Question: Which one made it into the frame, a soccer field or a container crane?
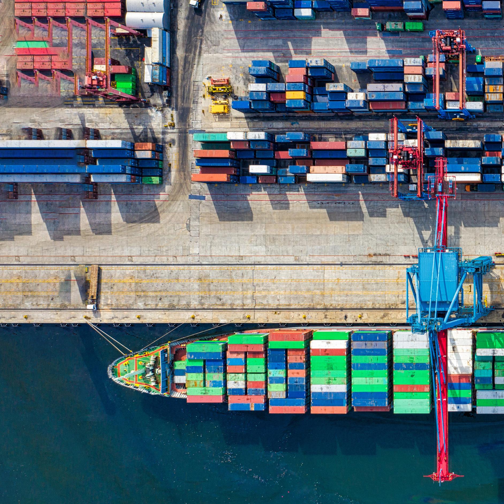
container crane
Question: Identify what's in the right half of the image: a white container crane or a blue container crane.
blue container crane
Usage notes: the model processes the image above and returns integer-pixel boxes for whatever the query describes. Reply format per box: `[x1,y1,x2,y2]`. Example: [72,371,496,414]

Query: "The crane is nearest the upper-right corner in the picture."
[430,29,476,119]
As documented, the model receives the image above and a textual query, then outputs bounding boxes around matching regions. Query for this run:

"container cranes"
[79,15,154,104]
[15,15,87,104]
[388,118,437,200]
[51,15,120,104]
[407,156,495,491]
[430,29,476,119]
